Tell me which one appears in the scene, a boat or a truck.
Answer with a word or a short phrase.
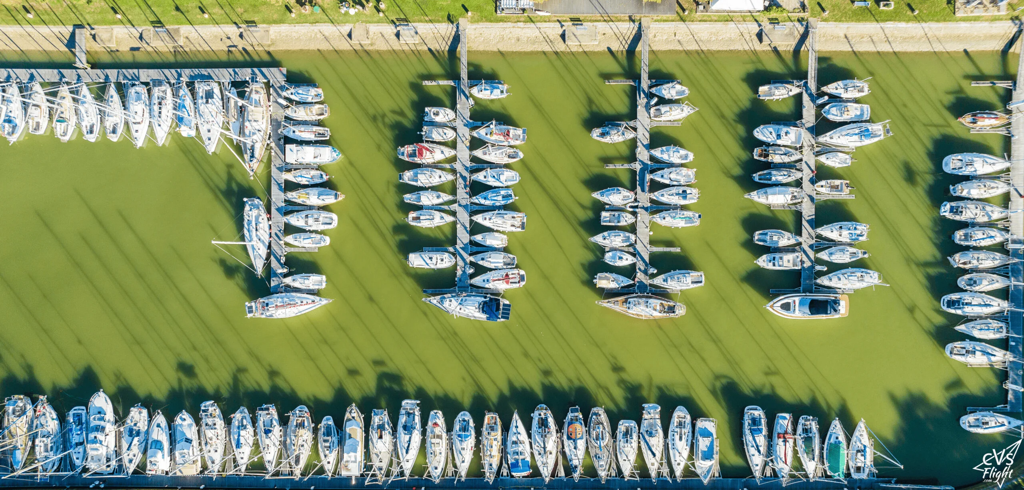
boat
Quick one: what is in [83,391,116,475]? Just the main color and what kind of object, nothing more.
white boat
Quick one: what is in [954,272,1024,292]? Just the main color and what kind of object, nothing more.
white boat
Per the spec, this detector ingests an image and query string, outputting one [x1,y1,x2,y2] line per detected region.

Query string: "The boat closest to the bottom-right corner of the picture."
[958,410,1024,441]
